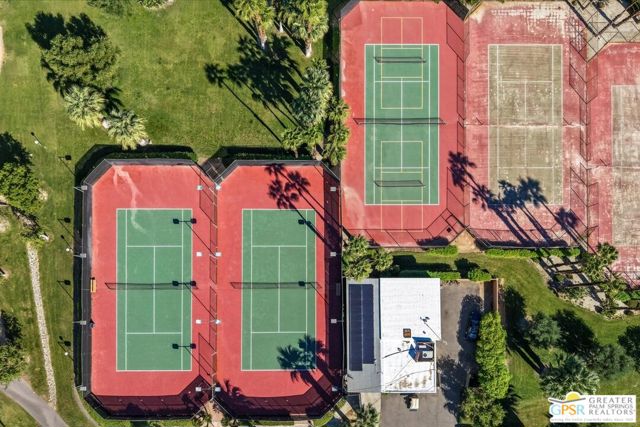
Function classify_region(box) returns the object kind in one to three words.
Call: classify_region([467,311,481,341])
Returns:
car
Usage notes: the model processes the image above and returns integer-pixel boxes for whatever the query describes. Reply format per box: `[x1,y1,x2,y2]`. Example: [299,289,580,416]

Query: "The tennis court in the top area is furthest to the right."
[587,43,640,287]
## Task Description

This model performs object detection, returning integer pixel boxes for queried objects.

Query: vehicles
[467,311,481,341]
[411,398,421,413]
